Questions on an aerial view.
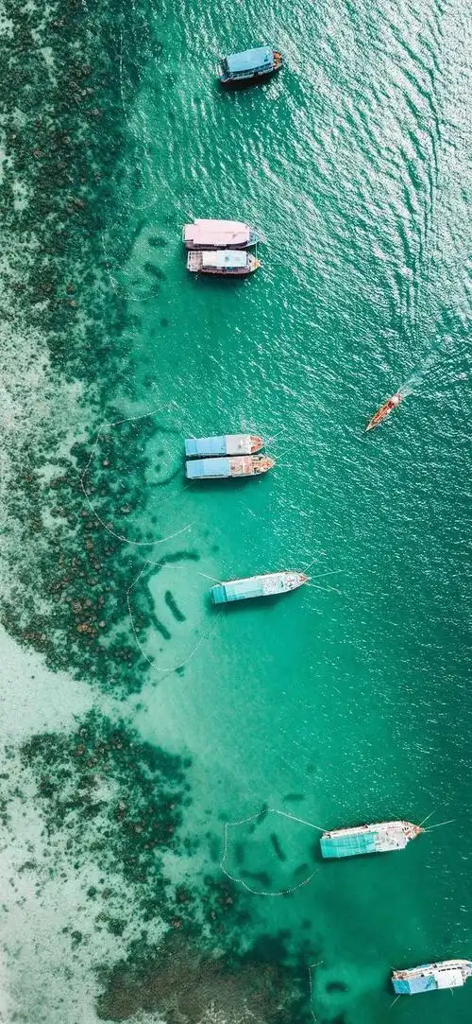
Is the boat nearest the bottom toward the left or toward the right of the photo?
right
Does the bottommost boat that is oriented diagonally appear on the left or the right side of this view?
right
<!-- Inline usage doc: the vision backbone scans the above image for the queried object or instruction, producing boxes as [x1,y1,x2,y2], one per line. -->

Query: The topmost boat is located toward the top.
[218,51,290,89]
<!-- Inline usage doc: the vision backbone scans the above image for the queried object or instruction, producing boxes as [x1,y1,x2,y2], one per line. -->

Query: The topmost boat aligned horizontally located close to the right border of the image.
[304,812,456,860]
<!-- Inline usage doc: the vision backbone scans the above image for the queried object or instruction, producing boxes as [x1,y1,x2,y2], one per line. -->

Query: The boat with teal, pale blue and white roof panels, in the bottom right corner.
[387,955,472,1008]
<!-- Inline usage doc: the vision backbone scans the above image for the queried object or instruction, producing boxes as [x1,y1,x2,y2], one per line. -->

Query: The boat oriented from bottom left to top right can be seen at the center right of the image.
[367,384,409,431]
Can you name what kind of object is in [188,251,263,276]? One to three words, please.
boat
